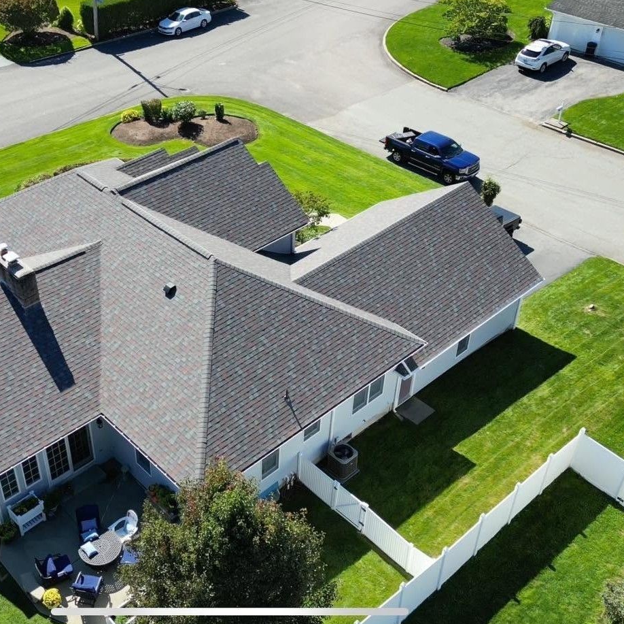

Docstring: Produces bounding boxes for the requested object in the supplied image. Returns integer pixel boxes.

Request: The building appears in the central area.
[0,142,543,545]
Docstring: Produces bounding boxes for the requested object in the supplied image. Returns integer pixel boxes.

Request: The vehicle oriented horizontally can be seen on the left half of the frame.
[154,8,214,37]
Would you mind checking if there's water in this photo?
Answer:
No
